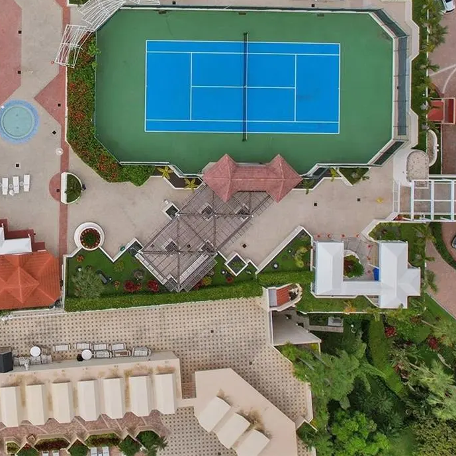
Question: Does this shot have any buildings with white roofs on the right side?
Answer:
Yes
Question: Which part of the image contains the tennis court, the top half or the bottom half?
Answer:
top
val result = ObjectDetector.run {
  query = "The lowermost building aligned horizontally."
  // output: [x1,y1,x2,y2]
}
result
[0,351,194,426]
